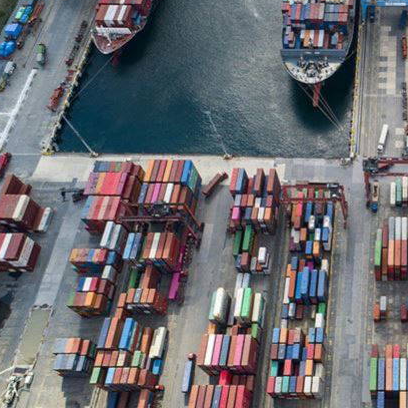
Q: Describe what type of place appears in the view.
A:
port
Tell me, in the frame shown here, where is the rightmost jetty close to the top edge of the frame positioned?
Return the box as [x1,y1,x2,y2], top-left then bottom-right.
[350,0,408,159]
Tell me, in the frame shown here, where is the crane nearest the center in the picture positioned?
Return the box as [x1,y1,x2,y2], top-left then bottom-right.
[113,201,201,249]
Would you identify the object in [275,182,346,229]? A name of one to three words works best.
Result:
container crane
